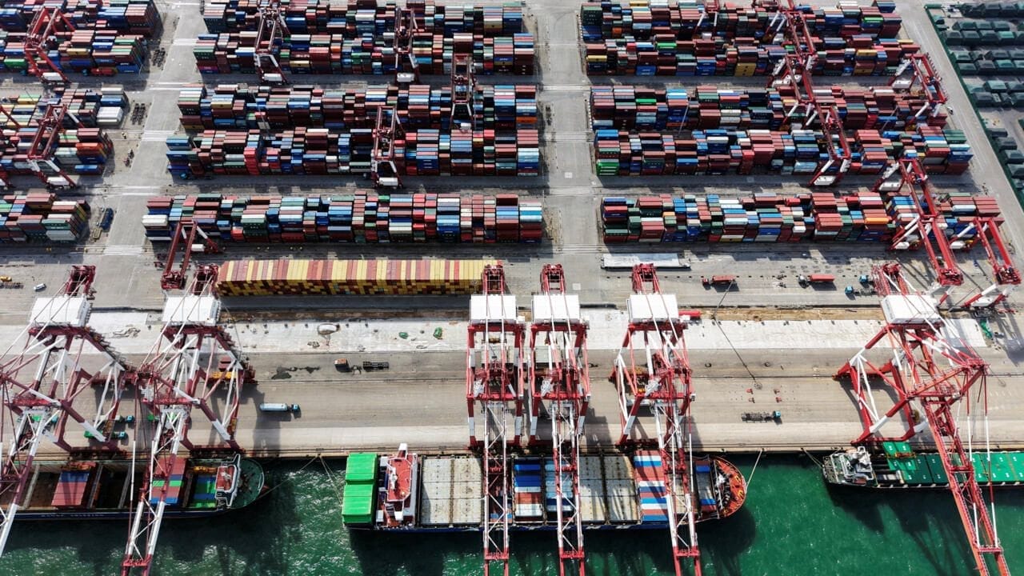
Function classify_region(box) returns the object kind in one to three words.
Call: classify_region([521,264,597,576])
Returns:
container crane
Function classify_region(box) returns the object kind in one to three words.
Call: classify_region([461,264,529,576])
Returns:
container crane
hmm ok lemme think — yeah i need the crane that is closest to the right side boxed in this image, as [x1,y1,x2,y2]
[946,222,1021,308]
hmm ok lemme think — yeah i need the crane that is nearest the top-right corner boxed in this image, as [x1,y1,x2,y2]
[885,55,950,131]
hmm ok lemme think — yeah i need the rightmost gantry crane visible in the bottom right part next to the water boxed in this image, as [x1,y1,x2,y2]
[826,263,1007,576]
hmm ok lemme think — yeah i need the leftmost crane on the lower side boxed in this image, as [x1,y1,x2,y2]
[0,264,139,538]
